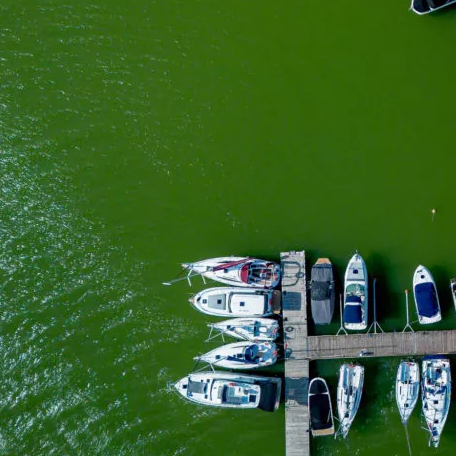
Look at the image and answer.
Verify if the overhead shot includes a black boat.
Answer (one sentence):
Yes, a black boat appears in the view.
